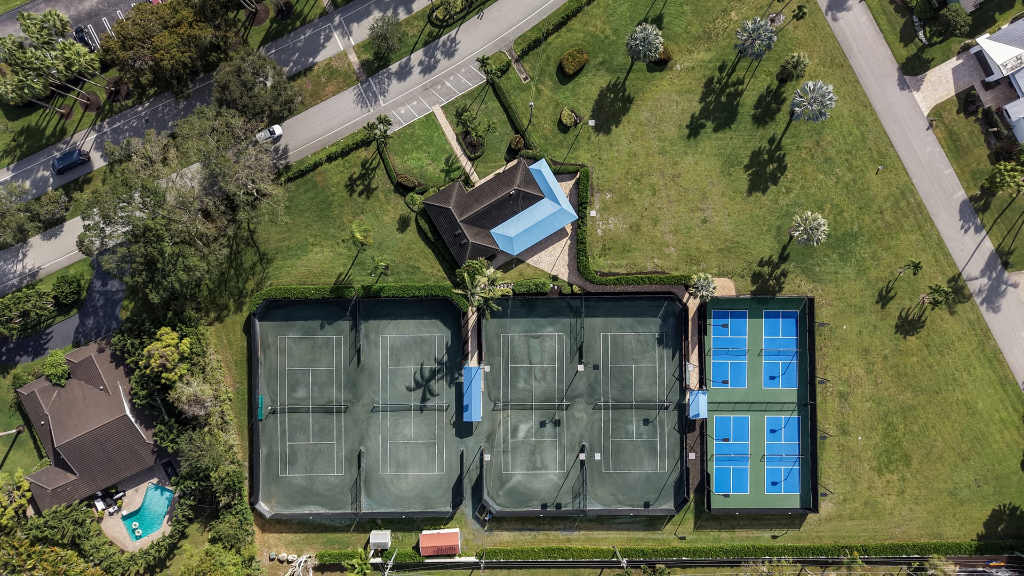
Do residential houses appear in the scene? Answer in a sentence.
Yes, there's a residential house down there.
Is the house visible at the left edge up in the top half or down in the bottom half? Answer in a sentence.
The house visible at the left edge is in the bottom half of the image.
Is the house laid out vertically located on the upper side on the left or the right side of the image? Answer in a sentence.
The house laid out vertically located on the upper side is on the right side of the image.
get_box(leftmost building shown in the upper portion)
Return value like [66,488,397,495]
[422,157,579,265]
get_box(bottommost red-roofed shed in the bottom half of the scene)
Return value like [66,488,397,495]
[420,528,461,556]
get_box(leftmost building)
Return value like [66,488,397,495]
[15,332,159,514]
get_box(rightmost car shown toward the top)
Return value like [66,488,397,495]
[254,125,284,145]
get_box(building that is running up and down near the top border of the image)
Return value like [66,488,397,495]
[968,16,1024,144]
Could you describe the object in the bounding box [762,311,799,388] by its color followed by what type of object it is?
blue sports court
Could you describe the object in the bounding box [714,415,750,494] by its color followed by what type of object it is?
blue sports court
